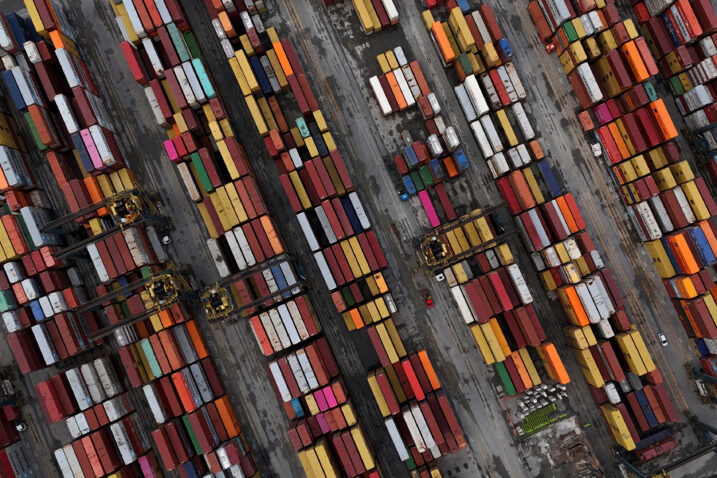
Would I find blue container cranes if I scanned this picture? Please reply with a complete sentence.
No, the photo shows no blue container crane.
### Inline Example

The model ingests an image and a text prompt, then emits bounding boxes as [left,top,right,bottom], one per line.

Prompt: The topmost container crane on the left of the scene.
[36,185,177,265]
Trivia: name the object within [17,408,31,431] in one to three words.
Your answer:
vehicle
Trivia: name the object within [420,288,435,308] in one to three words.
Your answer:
vehicle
